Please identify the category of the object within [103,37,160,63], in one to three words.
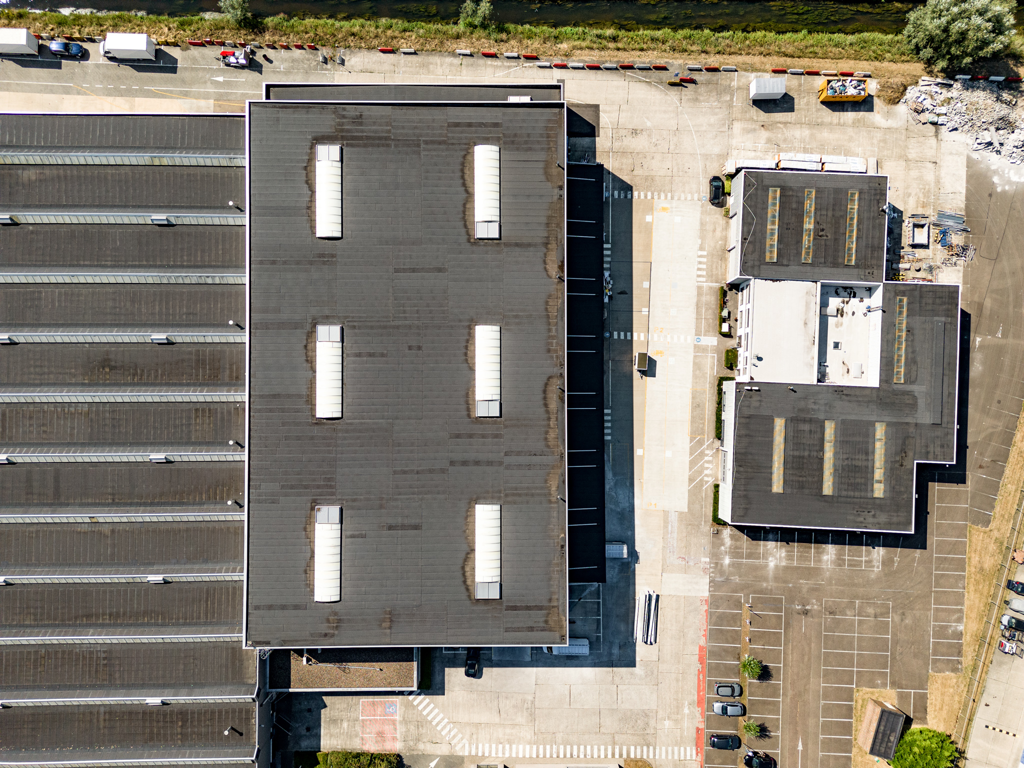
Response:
truck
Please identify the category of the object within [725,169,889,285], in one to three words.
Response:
building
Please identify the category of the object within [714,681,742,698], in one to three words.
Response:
car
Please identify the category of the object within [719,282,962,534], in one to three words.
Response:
building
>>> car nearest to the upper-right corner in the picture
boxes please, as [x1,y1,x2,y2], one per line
[708,175,725,206]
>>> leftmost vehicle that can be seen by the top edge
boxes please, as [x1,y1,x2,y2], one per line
[0,32,46,60]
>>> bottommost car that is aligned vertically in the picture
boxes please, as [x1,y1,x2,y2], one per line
[465,648,480,679]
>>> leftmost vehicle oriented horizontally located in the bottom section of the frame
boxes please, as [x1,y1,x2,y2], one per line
[545,640,590,660]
